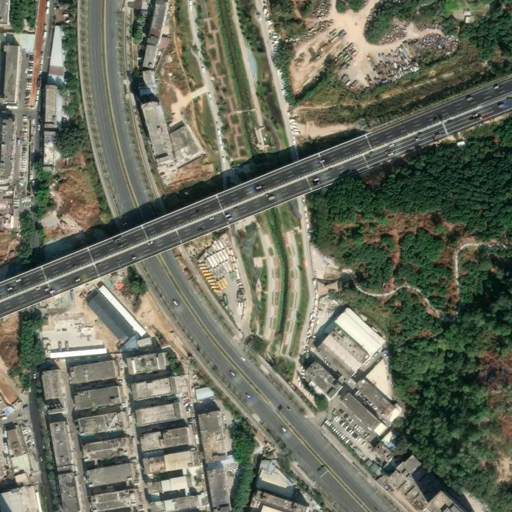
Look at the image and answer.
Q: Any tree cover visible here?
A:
Yes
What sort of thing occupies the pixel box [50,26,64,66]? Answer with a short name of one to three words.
shed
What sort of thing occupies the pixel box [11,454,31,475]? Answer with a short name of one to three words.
shed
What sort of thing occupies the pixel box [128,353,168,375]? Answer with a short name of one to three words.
building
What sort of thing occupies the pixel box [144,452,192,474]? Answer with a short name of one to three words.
building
